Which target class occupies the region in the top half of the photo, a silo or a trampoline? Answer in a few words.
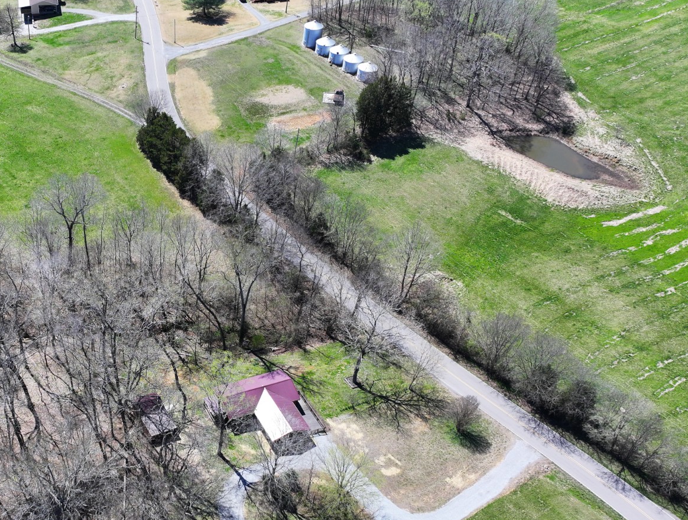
silo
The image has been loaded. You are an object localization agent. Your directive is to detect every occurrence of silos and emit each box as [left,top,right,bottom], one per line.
[356,60,379,84]
[342,51,365,74]
[301,19,324,51]
[327,44,350,67]
[314,35,337,58]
